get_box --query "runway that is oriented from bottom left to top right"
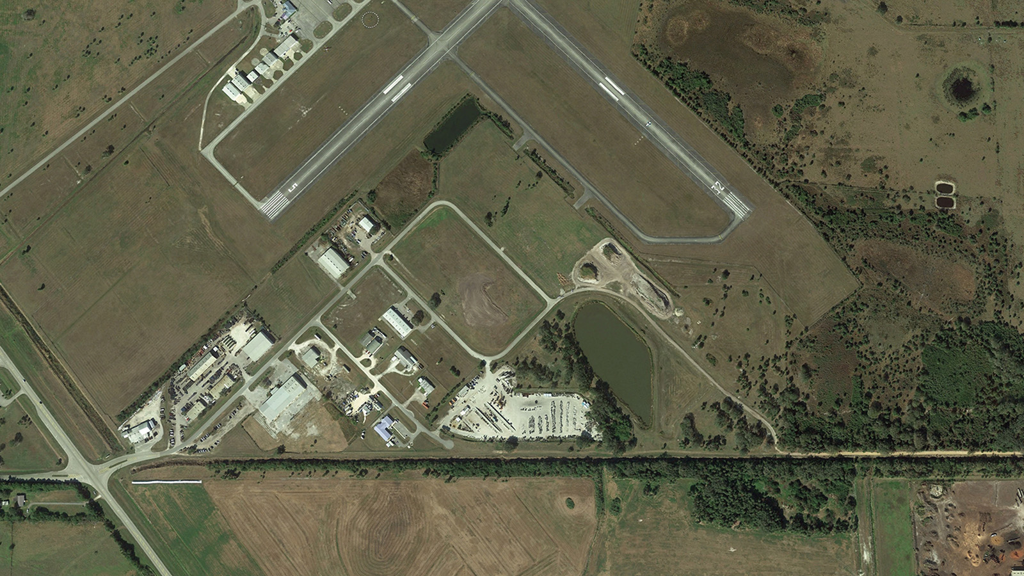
[257,0,504,224]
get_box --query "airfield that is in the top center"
[201,0,756,245]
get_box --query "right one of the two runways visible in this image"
[499,0,756,225]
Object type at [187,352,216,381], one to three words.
shed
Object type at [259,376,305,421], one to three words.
building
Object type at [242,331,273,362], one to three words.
building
